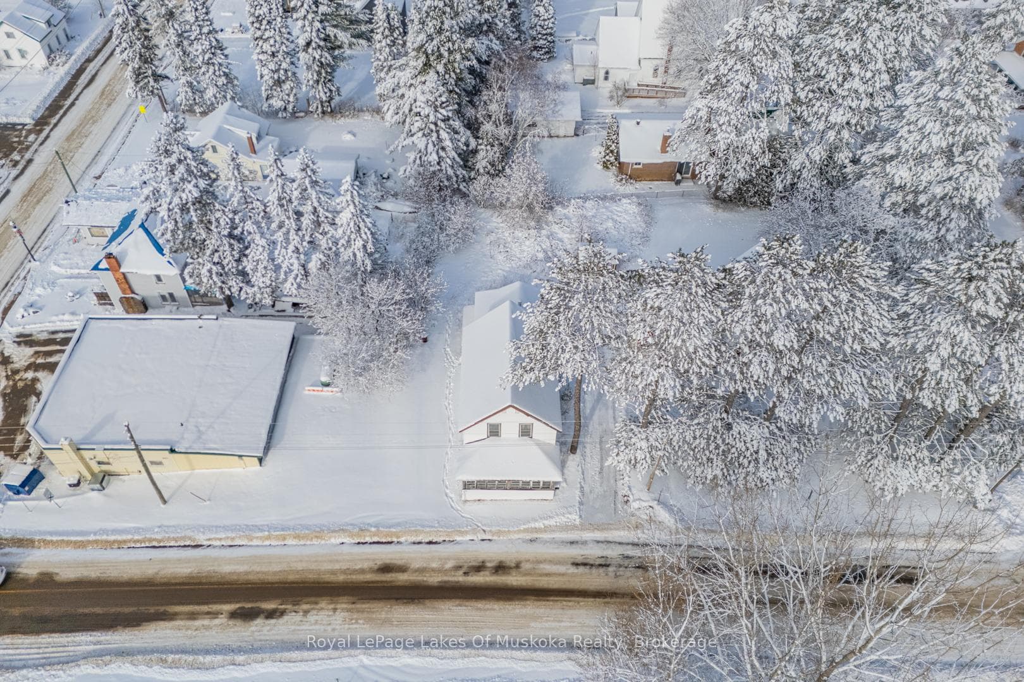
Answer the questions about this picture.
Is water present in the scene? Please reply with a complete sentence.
No, there's no water in this view.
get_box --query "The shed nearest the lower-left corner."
[0,458,50,502]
